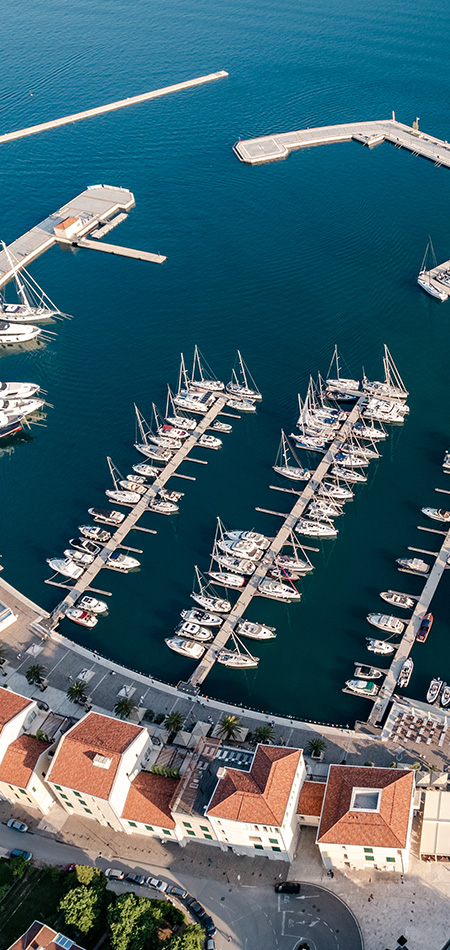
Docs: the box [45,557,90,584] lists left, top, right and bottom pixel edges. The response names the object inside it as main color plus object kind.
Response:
white boat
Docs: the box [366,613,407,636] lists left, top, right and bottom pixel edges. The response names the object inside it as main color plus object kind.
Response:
white boat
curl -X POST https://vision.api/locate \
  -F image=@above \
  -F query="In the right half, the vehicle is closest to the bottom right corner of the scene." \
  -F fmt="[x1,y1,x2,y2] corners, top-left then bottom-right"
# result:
[275,881,302,894]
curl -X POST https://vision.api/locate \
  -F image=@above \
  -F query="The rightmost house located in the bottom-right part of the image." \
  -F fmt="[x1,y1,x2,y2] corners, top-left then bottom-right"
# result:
[315,764,416,869]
